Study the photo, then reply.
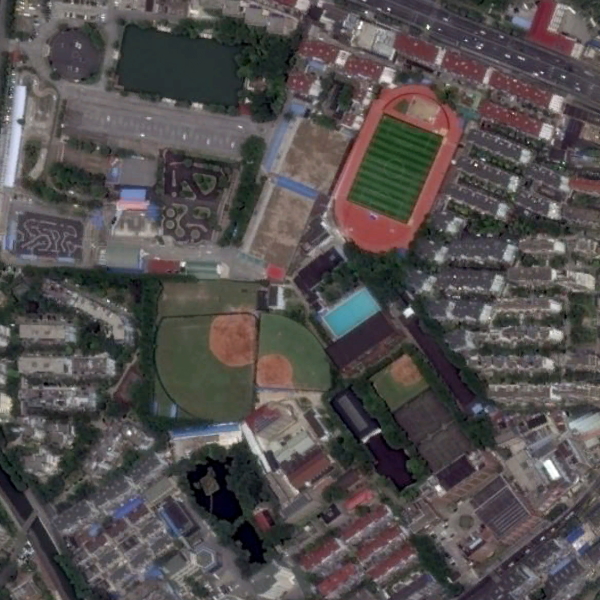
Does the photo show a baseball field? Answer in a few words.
Yes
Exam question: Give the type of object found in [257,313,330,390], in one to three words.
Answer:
baseball field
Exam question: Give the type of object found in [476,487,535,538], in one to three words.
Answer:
shed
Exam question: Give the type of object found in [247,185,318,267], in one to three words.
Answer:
sports field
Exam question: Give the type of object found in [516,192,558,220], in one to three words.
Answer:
building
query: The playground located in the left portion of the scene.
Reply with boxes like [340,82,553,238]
[17,211,83,264]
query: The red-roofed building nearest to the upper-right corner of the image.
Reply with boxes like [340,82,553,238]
[528,0,582,60]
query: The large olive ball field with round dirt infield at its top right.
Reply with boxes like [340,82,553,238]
[154,313,257,421]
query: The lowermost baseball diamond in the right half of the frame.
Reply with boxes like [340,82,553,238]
[371,355,430,411]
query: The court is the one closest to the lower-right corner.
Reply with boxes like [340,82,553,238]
[420,421,472,473]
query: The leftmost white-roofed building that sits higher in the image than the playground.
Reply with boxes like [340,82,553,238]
[4,86,29,188]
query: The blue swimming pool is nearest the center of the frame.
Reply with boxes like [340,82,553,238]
[316,282,388,343]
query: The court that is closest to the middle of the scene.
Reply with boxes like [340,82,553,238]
[393,380,455,441]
